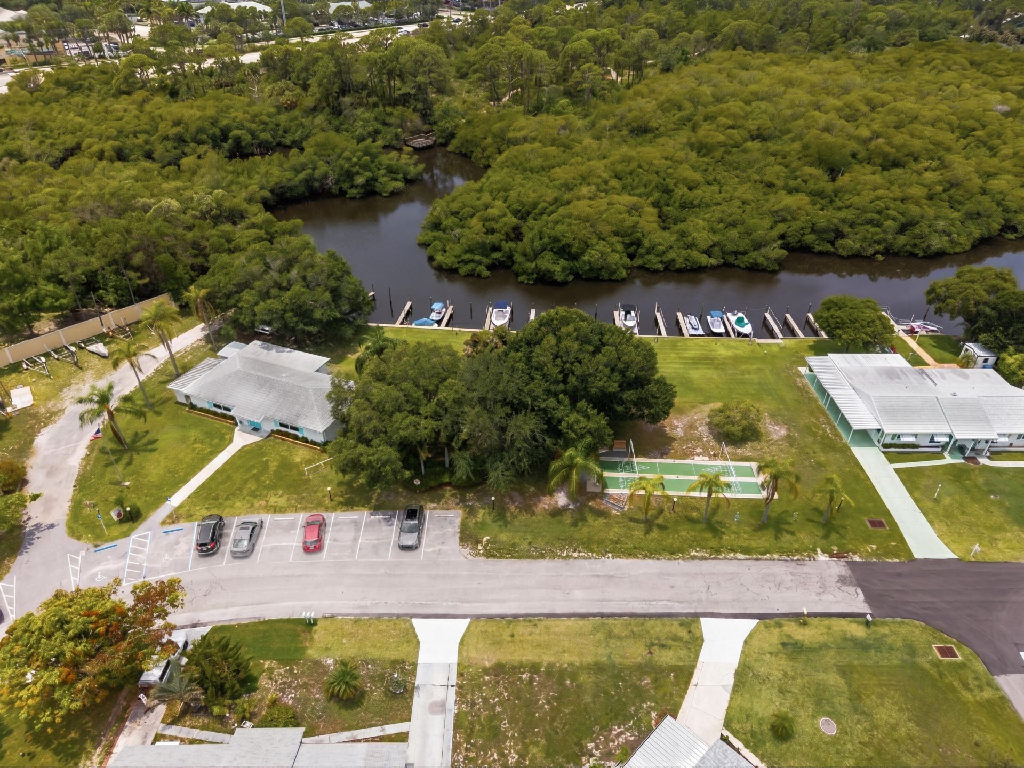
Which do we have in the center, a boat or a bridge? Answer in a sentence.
What appears in the center is a boat.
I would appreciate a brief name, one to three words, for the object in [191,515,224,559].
car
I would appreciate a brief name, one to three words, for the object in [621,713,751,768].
house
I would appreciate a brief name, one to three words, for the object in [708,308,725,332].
boat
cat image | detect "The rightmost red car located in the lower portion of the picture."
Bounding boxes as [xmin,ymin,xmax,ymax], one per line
[301,513,328,552]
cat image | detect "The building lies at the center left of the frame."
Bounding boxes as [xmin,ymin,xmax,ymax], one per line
[167,340,344,442]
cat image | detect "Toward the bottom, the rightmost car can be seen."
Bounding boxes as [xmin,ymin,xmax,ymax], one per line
[397,502,426,548]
